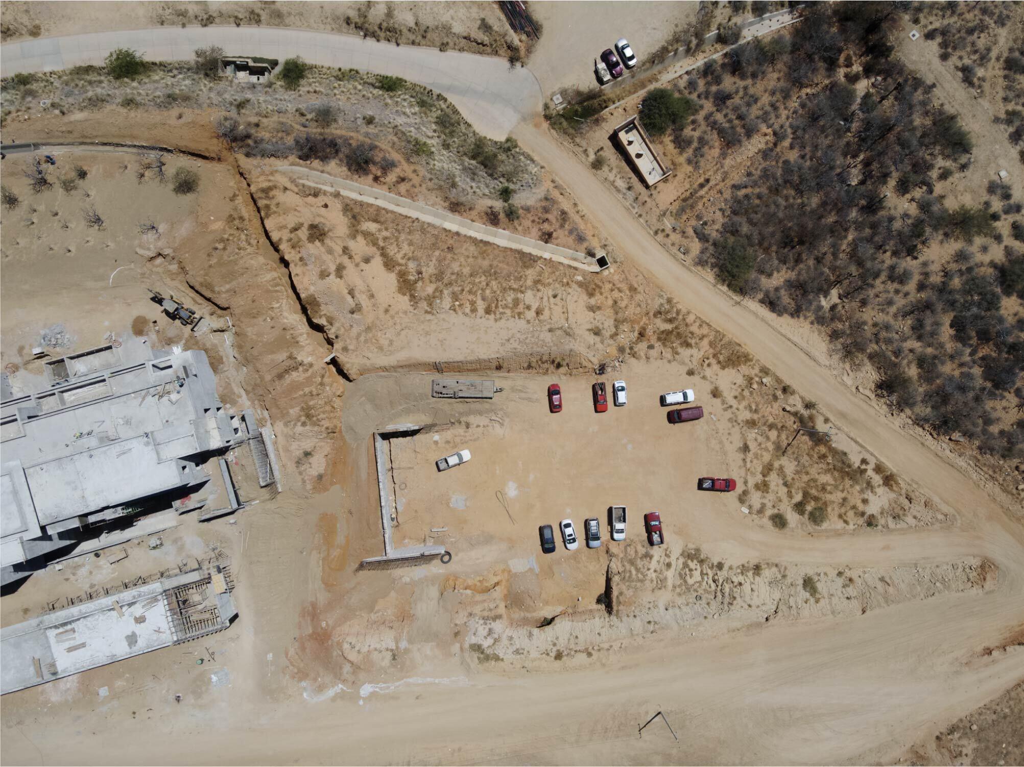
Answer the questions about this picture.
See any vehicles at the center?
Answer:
Yes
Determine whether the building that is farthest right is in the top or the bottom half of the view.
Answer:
top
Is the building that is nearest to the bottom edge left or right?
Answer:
left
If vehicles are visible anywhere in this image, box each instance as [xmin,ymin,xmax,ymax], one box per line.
[595,62,612,85]
[645,512,664,547]
[698,477,736,493]
[586,518,602,548]
[613,381,627,407]
[435,450,471,473]
[617,37,640,69]
[611,505,627,540]
[604,48,625,78]
[145,287,204,333]
[667,405,705,425]
[548,384,563,413]
[560,519,578,550]
[540,524,556,554]
[660,389,695,406]
[593,381,608,413]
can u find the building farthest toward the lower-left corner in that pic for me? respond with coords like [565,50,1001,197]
[0,334,258,586]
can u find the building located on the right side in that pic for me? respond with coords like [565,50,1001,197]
[613,115,672,191]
